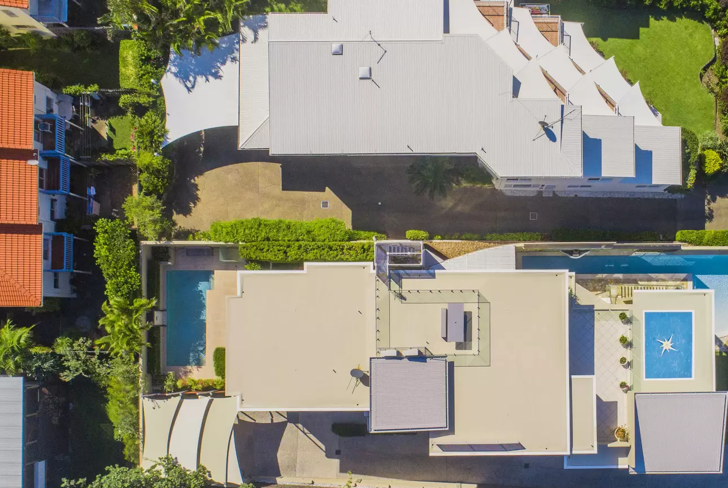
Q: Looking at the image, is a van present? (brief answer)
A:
No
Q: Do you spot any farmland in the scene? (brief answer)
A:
No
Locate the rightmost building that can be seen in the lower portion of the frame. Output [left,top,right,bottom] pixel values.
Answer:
[633,291,714,388]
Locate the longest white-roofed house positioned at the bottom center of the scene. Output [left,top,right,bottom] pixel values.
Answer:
[227,262,569,455]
